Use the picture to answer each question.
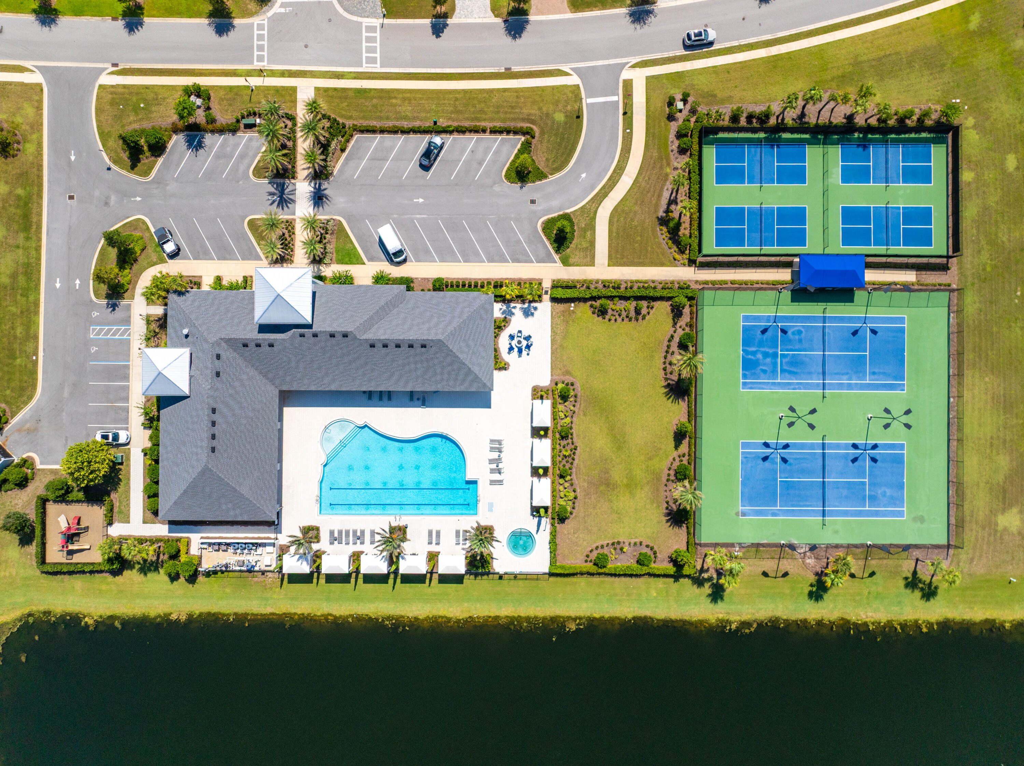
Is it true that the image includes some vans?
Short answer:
Yes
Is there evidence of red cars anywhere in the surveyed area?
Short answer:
No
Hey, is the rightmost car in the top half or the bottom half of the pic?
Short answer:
top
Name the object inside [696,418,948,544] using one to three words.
tennis court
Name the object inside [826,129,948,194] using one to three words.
sports court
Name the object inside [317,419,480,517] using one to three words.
swimming pool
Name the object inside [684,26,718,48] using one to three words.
car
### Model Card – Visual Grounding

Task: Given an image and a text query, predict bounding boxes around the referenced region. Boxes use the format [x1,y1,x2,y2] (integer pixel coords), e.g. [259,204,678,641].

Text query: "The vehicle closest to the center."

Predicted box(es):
[377,222,407,265]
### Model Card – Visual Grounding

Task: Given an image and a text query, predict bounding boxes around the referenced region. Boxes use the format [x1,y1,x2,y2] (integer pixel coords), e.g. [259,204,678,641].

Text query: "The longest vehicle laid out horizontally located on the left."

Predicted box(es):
[94,430,130,446]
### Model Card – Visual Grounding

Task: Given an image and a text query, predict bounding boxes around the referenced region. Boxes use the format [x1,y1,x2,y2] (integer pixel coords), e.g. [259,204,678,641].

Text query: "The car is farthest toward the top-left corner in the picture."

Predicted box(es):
[150,225,178,257]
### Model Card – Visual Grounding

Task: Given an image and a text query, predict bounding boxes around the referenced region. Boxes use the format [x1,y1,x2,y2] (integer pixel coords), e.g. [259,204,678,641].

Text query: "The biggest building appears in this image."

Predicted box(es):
[141,267,494,521]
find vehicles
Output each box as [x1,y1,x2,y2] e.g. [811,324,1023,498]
[94,430,130,446]
[377,222,407,265]
[420,134,444,168]
[684,26,718,48]
[150,225,178,257]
